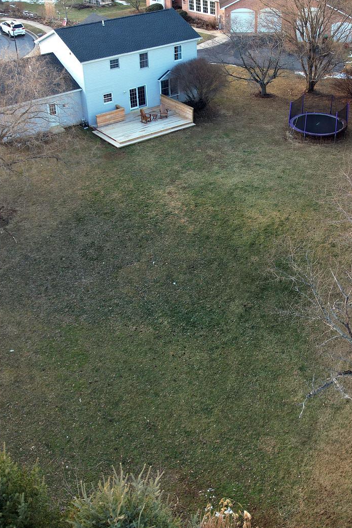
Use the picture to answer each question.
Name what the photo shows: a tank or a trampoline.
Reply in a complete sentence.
There is a trampoline in the scene.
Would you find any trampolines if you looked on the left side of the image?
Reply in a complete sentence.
No, on the left side of the image there is no trampoline.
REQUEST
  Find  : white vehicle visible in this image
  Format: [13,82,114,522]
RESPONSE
[0,20,29,39]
